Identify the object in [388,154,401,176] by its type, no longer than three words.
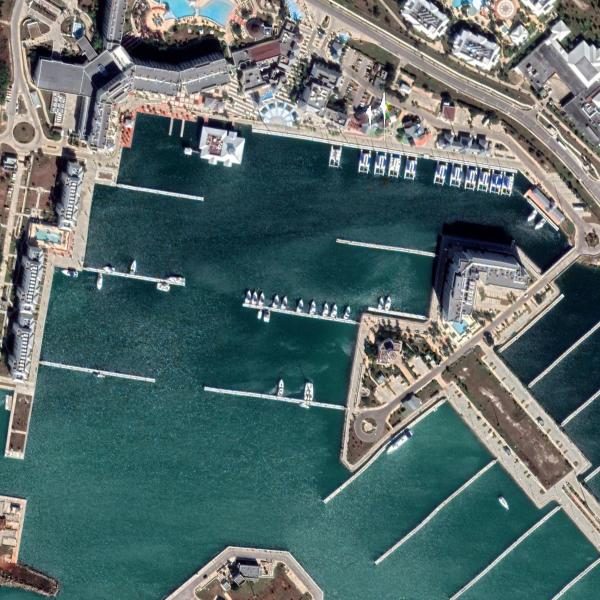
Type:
boat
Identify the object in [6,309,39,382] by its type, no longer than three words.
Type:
building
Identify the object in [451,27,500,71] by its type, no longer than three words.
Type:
house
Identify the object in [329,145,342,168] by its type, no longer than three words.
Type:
boat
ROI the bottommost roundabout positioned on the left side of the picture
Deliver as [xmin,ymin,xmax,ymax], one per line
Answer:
[5,113,43,151]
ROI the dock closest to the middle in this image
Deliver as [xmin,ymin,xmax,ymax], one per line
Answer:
[241,302,359,324]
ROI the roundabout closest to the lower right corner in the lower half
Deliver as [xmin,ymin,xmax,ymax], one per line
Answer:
[353,411,384,442]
